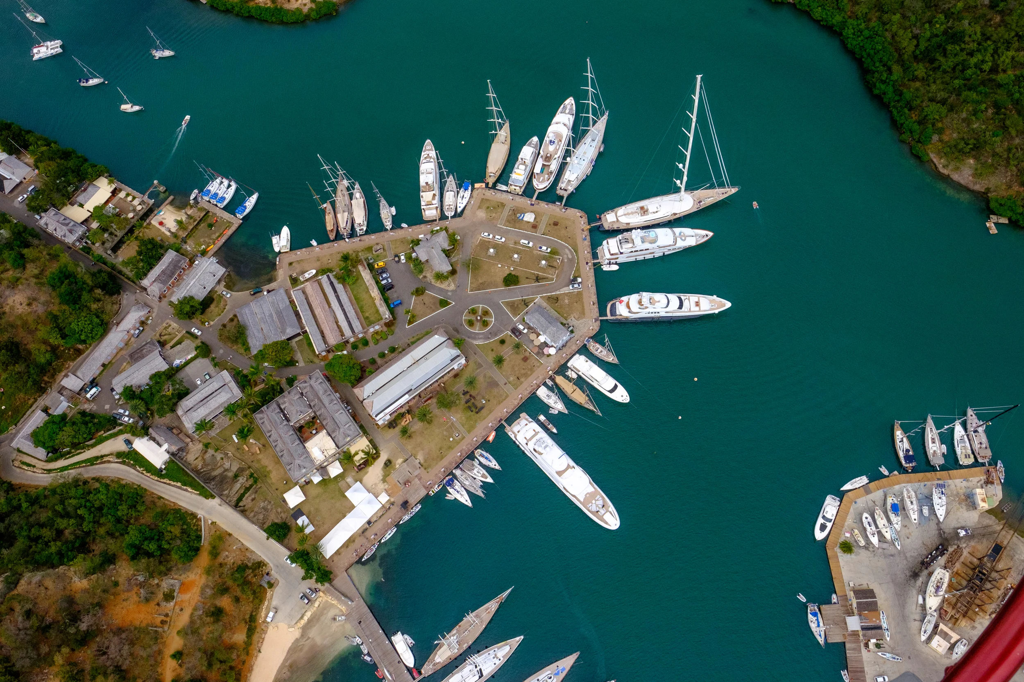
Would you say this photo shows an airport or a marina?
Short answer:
marina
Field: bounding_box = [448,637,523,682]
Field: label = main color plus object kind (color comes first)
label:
white boat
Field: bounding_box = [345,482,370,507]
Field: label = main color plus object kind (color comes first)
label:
white tent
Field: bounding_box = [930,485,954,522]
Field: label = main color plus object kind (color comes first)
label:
white boat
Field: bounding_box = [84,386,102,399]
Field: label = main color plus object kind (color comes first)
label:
white vehicle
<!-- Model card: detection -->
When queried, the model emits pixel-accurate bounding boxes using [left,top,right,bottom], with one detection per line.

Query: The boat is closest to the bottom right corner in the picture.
[948,638,969,660]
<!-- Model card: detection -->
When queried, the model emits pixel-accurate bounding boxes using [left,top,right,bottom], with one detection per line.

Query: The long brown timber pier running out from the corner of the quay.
[332,572,409,682]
